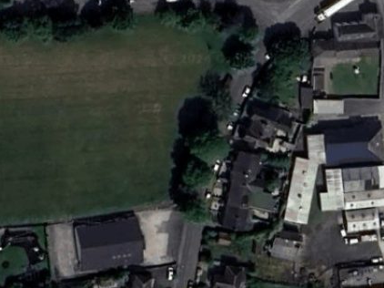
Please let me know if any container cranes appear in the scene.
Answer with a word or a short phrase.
No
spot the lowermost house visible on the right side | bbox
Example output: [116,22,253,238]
[213,265,250,288]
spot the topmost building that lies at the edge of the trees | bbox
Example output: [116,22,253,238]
[310,15,383,58]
